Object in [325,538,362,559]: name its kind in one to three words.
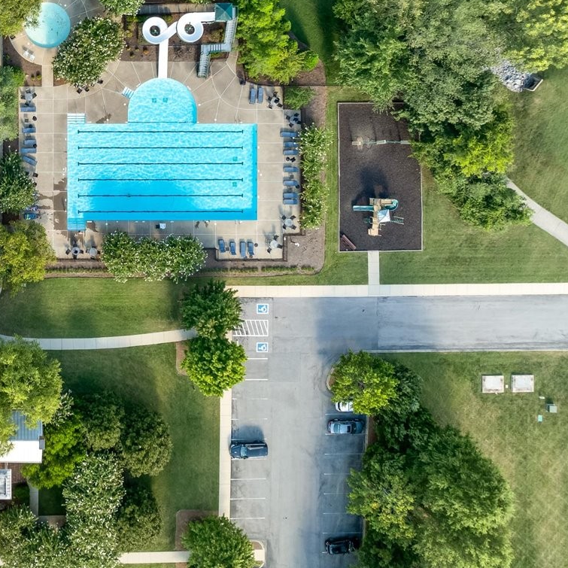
car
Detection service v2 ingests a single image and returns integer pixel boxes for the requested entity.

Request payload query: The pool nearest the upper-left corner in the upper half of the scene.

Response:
[24,3,70,49]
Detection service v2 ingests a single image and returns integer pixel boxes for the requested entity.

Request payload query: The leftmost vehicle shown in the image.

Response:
[230,444,270,463]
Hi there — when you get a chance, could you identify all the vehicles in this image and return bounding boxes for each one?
[325,538,362,559]
[230,444,270,463]
[335,400,373,417]
[329,420,367,438]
